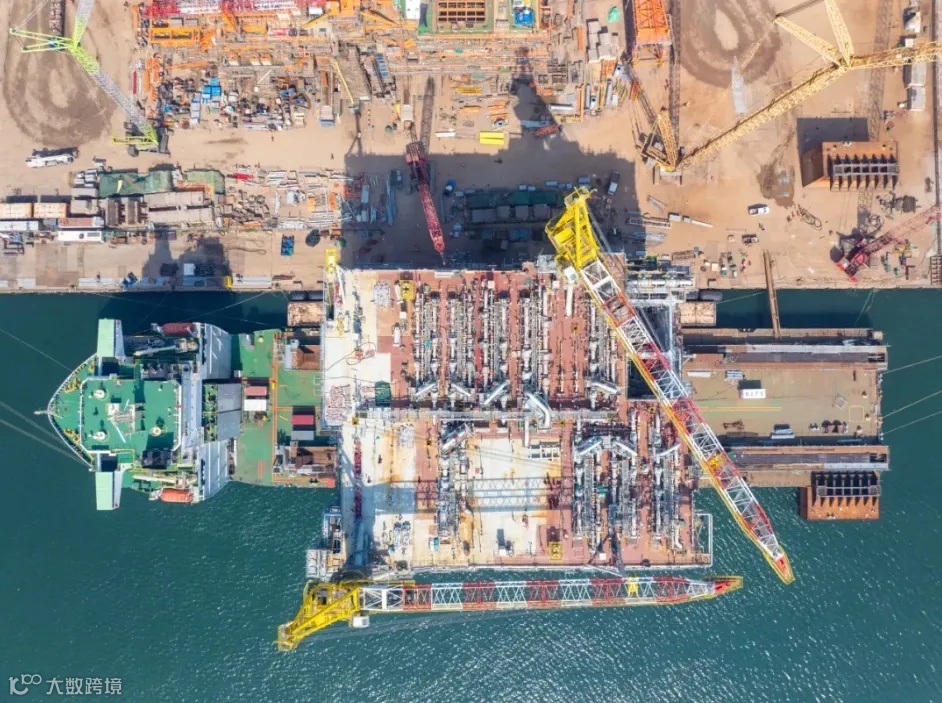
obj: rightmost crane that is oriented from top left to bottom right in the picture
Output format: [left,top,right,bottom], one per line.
[528,173,800,590]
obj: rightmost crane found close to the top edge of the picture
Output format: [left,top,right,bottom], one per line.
[632,0,942,188]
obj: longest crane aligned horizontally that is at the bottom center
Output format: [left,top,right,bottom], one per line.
[274,569,748,661]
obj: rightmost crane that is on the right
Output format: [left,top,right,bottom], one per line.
[828,202,942,282]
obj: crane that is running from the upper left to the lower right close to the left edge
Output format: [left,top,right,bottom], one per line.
[8,0,167,170]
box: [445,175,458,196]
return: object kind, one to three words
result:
vehicle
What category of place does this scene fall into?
port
